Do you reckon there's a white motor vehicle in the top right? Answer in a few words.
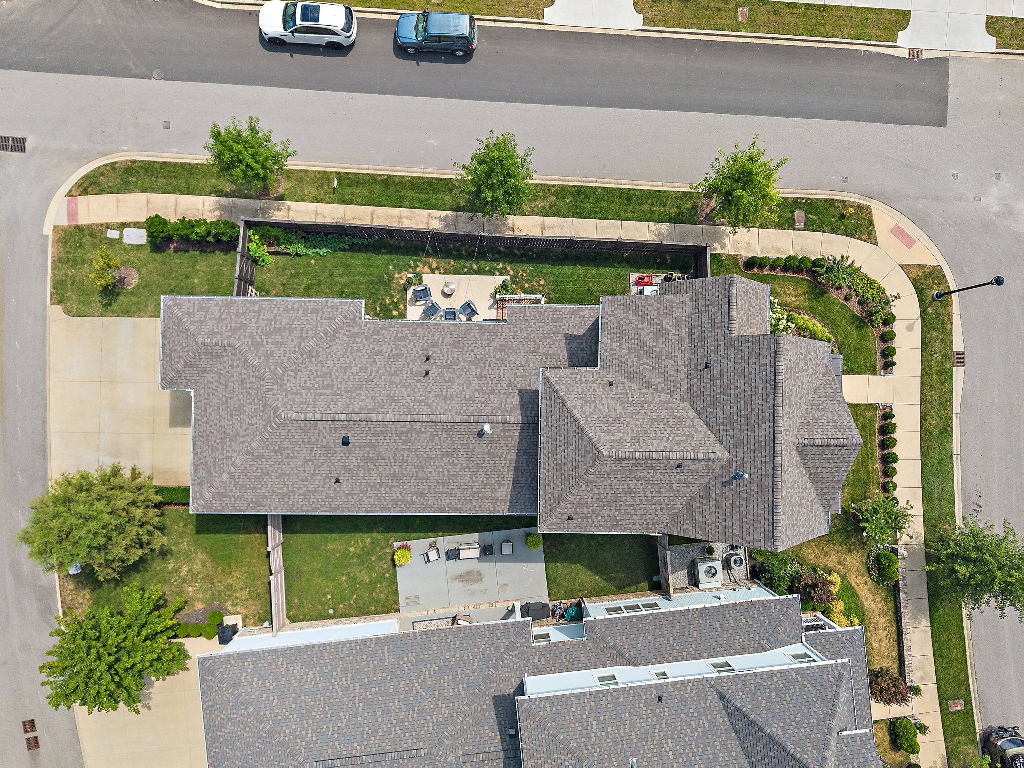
No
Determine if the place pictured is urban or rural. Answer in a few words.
urban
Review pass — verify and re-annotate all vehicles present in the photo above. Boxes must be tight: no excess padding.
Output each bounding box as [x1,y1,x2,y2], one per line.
[261,0,357,51]
[991,730,1024,768]
[396,9,477,59]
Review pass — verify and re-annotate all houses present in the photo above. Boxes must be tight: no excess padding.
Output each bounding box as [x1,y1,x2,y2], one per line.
[160,276,863,553]
[196,579,884,768]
